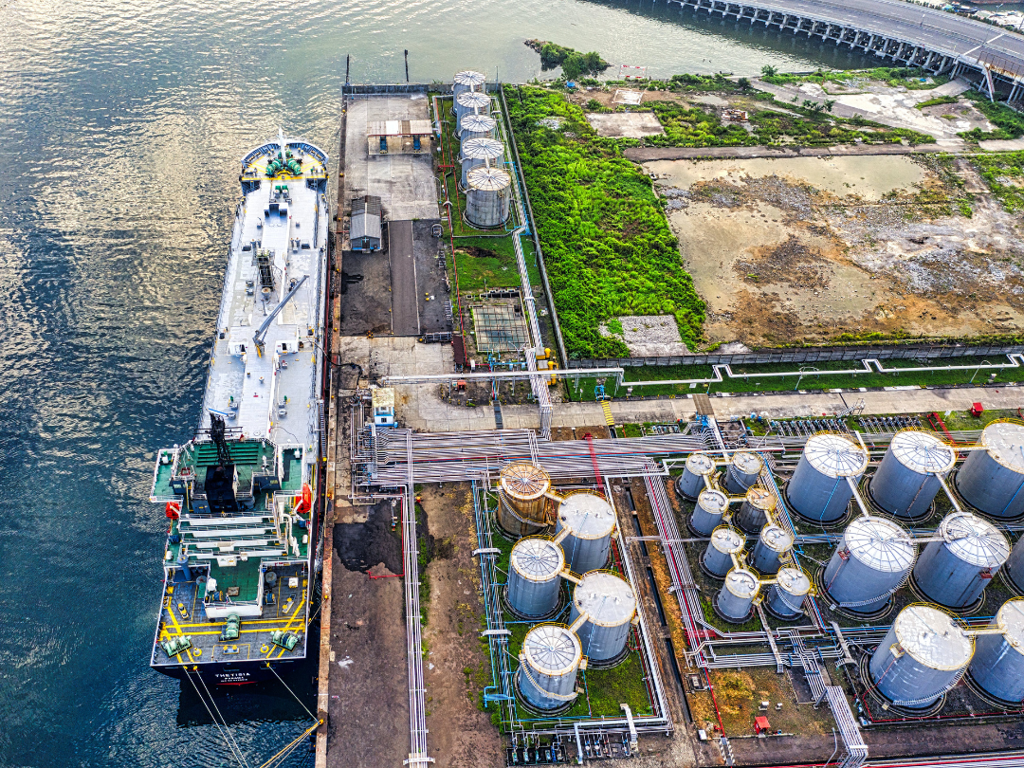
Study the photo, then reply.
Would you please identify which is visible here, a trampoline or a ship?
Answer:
ship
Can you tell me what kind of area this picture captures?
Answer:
industrial area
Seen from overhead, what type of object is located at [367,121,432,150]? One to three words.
shed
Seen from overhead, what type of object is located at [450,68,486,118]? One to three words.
storage tank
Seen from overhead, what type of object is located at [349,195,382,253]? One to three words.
house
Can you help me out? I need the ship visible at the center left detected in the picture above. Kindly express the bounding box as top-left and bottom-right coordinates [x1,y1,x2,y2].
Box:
[149,118,330,685]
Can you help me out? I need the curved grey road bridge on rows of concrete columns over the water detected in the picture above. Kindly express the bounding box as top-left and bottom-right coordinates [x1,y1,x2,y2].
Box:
[604,0,1024,91]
